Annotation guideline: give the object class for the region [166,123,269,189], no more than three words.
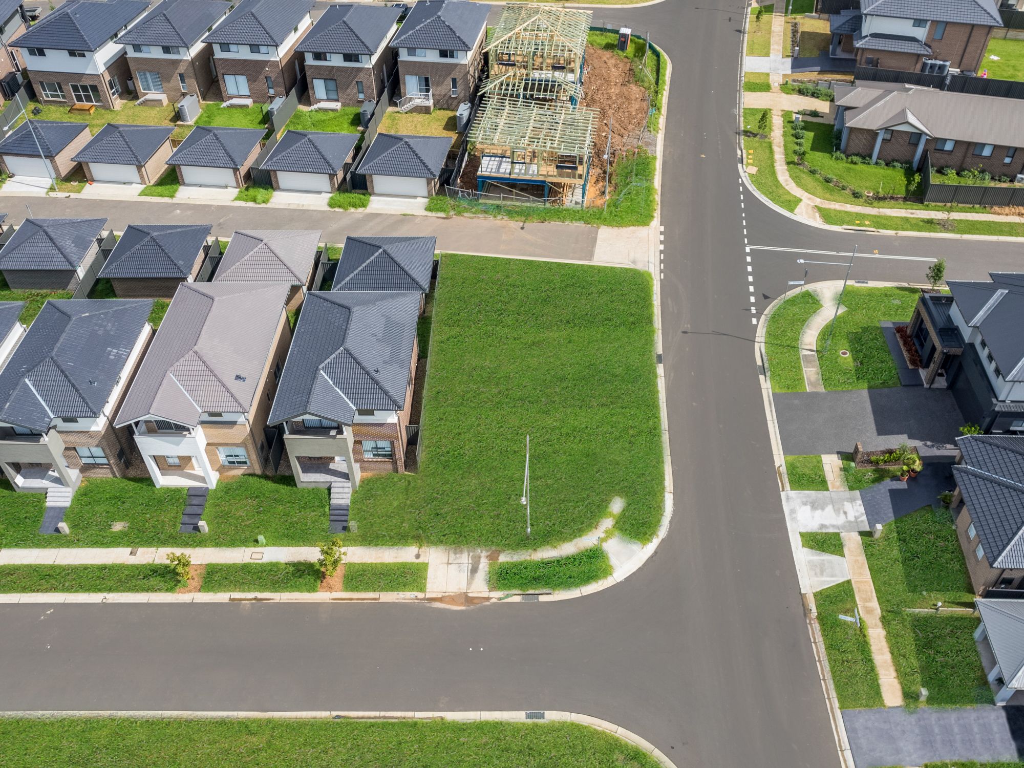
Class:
building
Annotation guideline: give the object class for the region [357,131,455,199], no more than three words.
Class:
building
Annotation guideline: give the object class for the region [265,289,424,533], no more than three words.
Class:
house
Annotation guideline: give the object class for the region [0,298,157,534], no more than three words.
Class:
house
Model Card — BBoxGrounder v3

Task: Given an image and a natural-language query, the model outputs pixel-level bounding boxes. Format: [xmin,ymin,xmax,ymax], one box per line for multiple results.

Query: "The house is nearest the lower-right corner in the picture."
[971,595,1024,714]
